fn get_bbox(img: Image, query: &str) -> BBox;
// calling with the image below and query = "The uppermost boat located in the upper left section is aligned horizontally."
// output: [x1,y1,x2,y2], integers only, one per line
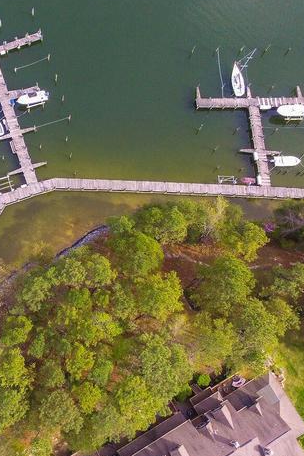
[16,90,51,104]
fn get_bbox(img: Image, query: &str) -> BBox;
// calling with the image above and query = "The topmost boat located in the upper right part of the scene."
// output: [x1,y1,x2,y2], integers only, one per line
[230,44,259,98]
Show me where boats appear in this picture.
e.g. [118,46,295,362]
[239,178,254,184]
[230,44,259,98]
[274,107,304,119]
[269,157,300,167]
[16,90,51,104]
